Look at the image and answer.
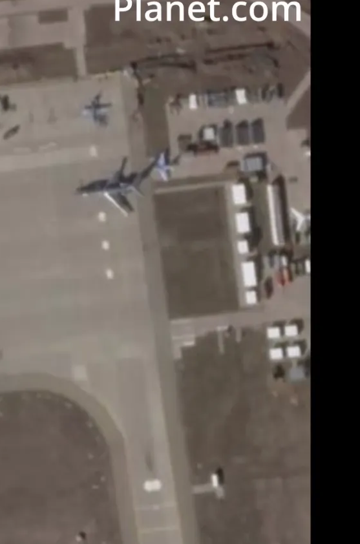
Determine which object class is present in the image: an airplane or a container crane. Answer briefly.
airplane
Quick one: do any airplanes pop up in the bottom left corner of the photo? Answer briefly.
No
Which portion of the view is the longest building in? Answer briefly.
right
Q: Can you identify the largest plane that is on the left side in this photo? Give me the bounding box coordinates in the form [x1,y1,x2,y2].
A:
[76,150,167,209]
